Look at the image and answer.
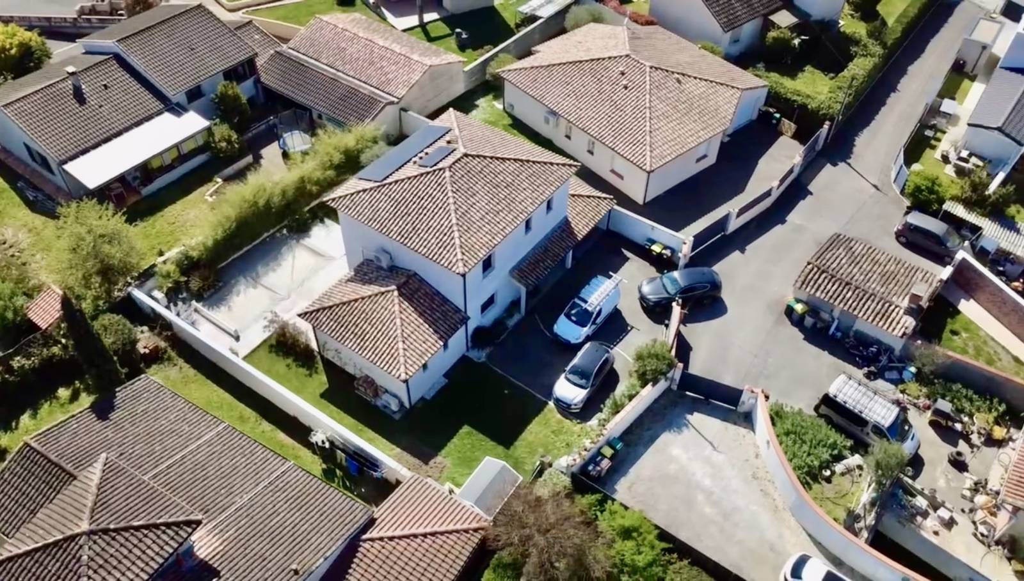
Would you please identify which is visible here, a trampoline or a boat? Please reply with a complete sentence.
The one in the frame is a trampoline.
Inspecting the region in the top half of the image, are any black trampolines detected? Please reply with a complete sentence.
No, there is no black trampoline in the top half of the image.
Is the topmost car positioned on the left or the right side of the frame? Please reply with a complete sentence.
It is on the right.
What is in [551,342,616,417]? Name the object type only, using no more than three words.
car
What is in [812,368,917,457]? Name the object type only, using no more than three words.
van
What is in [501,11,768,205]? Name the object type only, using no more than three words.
house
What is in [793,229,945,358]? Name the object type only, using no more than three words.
shed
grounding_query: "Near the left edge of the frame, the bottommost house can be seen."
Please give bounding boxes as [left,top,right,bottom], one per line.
[0,373,373,581]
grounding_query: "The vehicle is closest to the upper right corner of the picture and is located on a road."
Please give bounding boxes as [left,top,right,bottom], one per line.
[893,212,962,255]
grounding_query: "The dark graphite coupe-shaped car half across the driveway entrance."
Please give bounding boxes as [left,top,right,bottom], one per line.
[636,270,722,313]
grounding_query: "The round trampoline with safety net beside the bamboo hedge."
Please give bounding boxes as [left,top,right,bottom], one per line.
[270,108,313,155]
